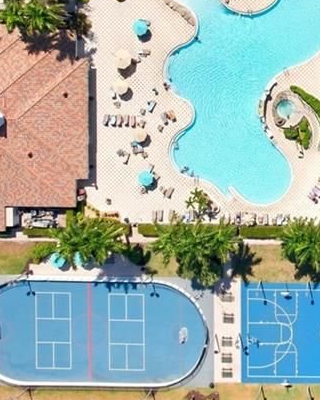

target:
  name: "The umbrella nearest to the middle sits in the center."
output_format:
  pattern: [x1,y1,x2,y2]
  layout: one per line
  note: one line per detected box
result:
[138,171,154,187]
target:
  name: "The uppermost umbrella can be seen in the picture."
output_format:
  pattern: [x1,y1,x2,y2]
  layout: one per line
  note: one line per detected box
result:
[133,21,148,35]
